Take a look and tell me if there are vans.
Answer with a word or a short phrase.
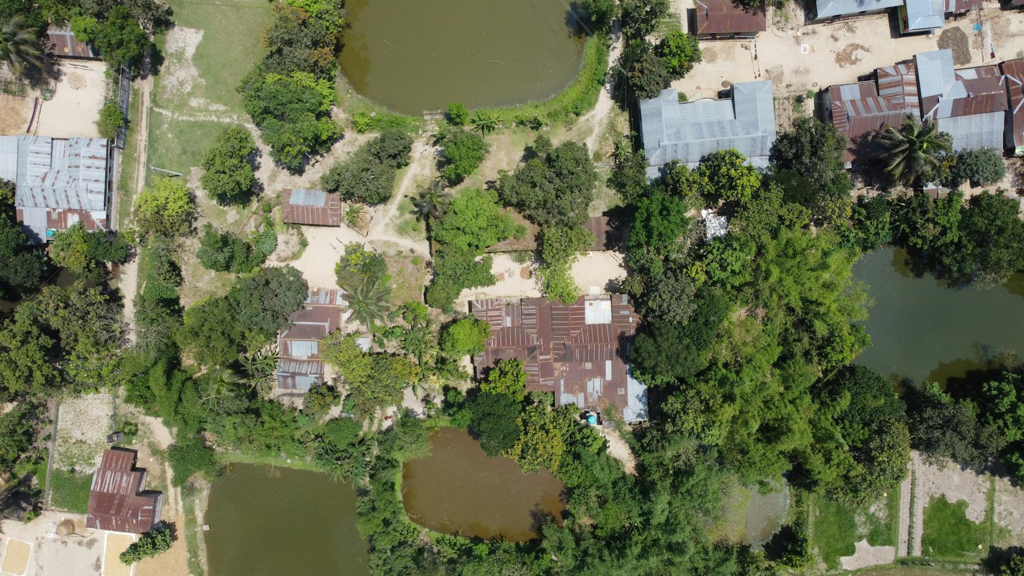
No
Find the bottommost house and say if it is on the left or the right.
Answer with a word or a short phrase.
left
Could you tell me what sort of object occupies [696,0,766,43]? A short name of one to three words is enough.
house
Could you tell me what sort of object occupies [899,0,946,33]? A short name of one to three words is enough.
house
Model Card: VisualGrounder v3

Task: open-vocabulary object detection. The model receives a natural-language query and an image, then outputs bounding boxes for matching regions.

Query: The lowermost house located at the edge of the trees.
[86,448,162,533]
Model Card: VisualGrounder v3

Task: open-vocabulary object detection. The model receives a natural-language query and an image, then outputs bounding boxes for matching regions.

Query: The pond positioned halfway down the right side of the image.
[851,232,1024,393]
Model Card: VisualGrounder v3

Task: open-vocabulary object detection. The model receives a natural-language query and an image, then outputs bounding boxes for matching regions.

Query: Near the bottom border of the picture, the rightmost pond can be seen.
[734,476,791,549]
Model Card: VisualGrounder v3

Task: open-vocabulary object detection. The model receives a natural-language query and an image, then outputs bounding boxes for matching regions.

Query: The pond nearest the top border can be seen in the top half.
[338,0,590,117]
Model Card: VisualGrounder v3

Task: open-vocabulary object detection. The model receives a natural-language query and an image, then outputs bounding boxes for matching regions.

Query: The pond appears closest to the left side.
[206,461,380,576]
